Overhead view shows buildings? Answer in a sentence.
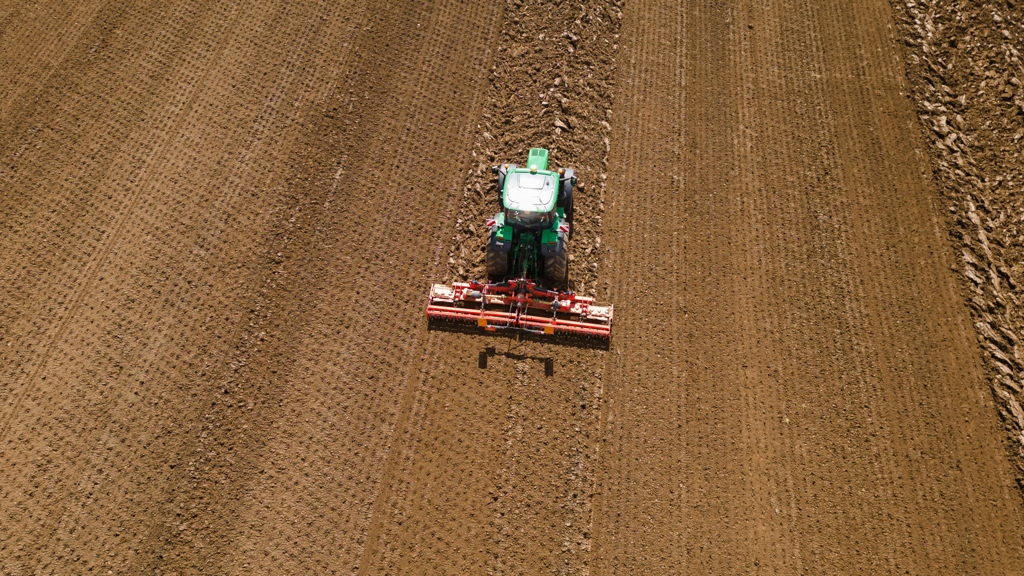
No, there isn't any building down there.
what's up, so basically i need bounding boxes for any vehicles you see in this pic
[484,147,576,282]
